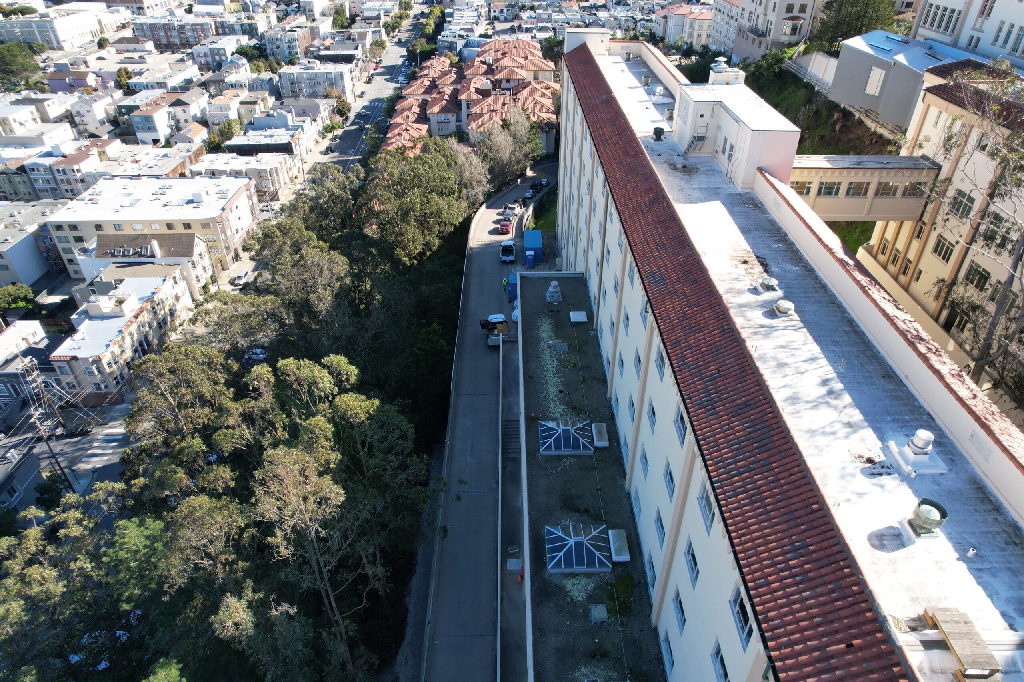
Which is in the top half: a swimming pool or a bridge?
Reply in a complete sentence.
Visible in the top half is a bridge.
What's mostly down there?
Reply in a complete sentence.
The bulk of the photo consists of buildings.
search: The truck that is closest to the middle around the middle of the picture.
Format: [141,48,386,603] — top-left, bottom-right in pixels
[477,313,508,343]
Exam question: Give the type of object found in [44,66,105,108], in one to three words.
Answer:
house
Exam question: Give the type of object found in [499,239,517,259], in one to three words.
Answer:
vehicle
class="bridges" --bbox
[789,154,942,223]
